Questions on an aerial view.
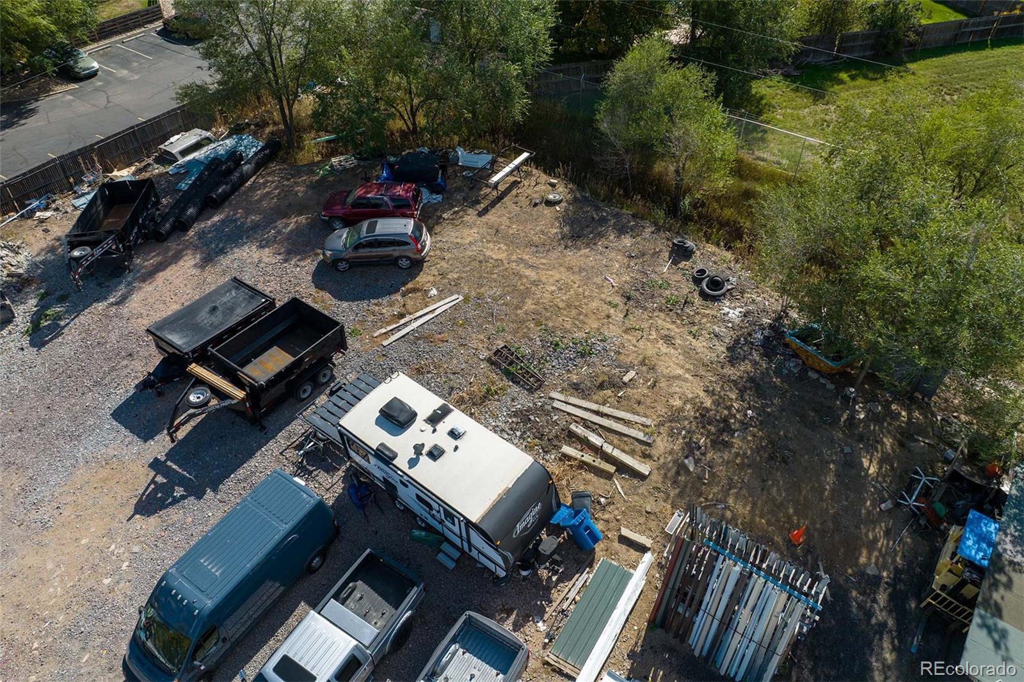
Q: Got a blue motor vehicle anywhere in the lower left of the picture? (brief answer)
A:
Yes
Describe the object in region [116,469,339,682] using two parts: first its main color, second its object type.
blue van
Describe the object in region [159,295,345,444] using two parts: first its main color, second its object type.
black trailer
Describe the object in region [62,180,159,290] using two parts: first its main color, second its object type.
black trailer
